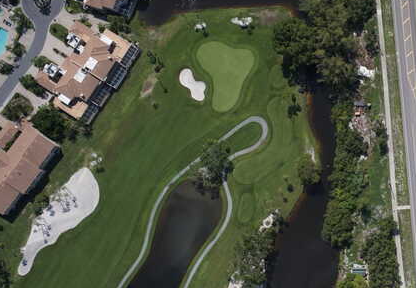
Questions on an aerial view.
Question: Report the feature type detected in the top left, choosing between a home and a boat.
home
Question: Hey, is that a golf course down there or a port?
golf course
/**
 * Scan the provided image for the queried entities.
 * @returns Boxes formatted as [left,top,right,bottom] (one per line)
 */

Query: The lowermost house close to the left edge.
[0,118,66,216]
